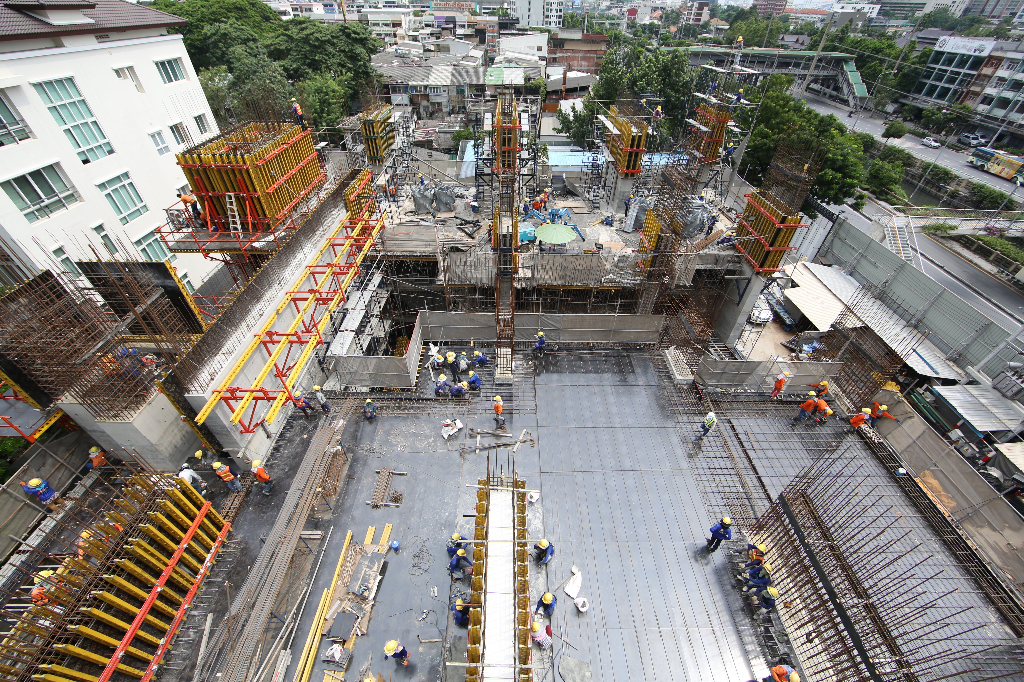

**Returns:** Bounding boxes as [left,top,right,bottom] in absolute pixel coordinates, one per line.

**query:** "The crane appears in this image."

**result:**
[526,200,582,227]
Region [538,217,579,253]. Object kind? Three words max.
umbrella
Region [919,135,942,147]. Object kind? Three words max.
vehicle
